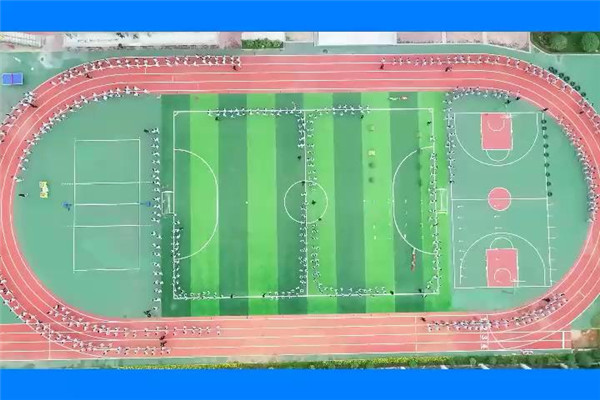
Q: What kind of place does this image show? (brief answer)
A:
sports ground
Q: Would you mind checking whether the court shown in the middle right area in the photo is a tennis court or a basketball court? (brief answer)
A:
basketball court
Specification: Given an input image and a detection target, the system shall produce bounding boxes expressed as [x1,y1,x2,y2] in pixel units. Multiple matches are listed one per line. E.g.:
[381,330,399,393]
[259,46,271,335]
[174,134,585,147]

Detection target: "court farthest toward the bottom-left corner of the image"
[62,139,151,271]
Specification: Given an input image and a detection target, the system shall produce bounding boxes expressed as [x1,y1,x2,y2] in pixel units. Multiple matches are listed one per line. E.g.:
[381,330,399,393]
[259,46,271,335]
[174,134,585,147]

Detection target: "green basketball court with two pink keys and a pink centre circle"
[445,110,553,292]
